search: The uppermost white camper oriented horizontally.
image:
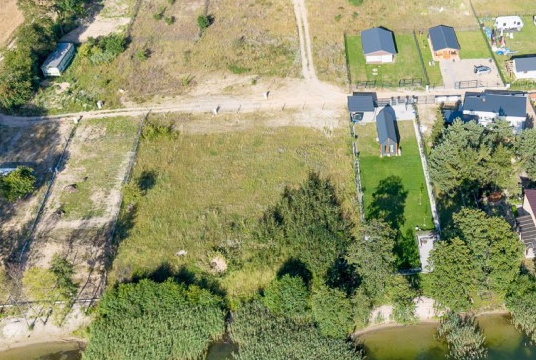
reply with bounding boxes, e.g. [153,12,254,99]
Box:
[490,17,524,31]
